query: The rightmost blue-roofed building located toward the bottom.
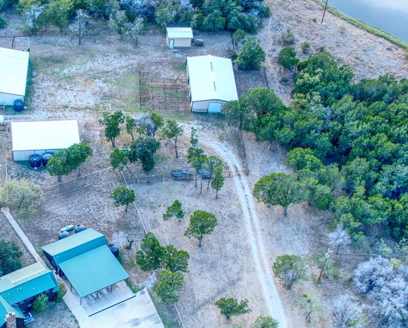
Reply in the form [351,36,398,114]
[41,227,129,305]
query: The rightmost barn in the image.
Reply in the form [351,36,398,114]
[184,54,237,114]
